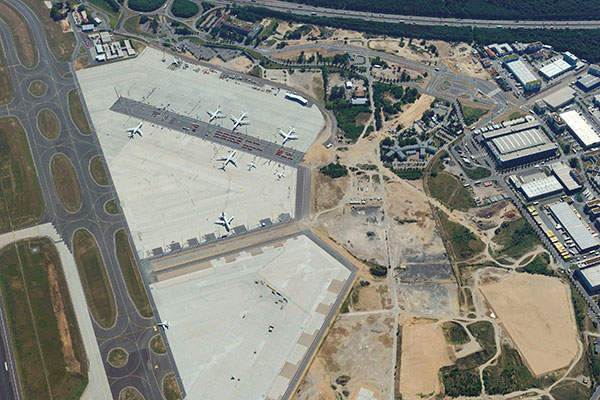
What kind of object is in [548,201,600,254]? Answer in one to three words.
building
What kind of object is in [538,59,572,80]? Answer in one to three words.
building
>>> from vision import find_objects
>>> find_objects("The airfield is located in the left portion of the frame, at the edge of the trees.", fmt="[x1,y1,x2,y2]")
[0,0,358,400]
